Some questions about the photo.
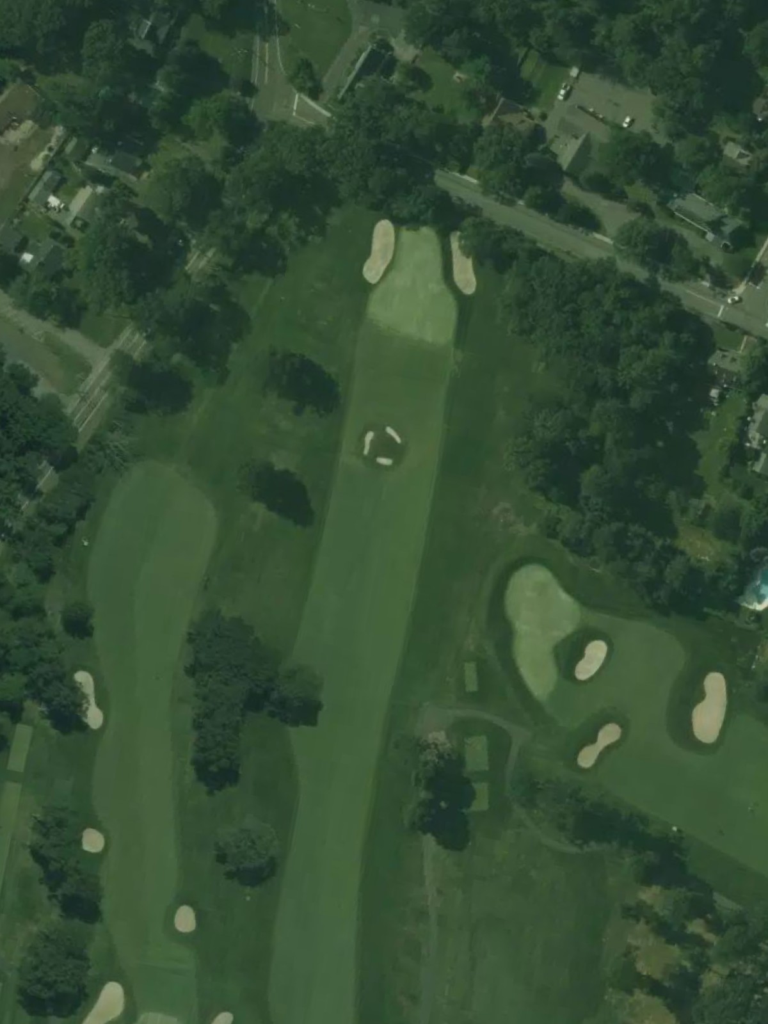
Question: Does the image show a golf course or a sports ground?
golf course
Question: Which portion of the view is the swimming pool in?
right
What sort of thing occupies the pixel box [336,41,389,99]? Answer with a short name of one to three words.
house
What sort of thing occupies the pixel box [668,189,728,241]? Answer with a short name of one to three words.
house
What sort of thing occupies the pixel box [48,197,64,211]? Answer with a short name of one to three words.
camper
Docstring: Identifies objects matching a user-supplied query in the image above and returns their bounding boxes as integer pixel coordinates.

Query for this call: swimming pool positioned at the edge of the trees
[740,562,768,611]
